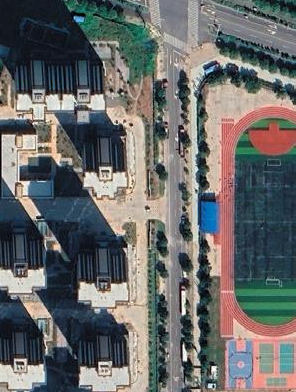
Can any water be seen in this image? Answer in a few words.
No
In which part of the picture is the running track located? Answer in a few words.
right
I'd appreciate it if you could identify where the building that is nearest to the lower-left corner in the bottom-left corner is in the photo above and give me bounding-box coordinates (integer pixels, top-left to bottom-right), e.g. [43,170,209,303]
[0,326,47,391]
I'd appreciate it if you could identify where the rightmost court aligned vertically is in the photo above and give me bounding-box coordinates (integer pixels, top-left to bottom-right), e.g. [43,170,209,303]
[280,343,294,372]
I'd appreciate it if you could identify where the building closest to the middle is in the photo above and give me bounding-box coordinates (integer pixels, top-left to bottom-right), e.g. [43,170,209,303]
[81,134,128,199]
